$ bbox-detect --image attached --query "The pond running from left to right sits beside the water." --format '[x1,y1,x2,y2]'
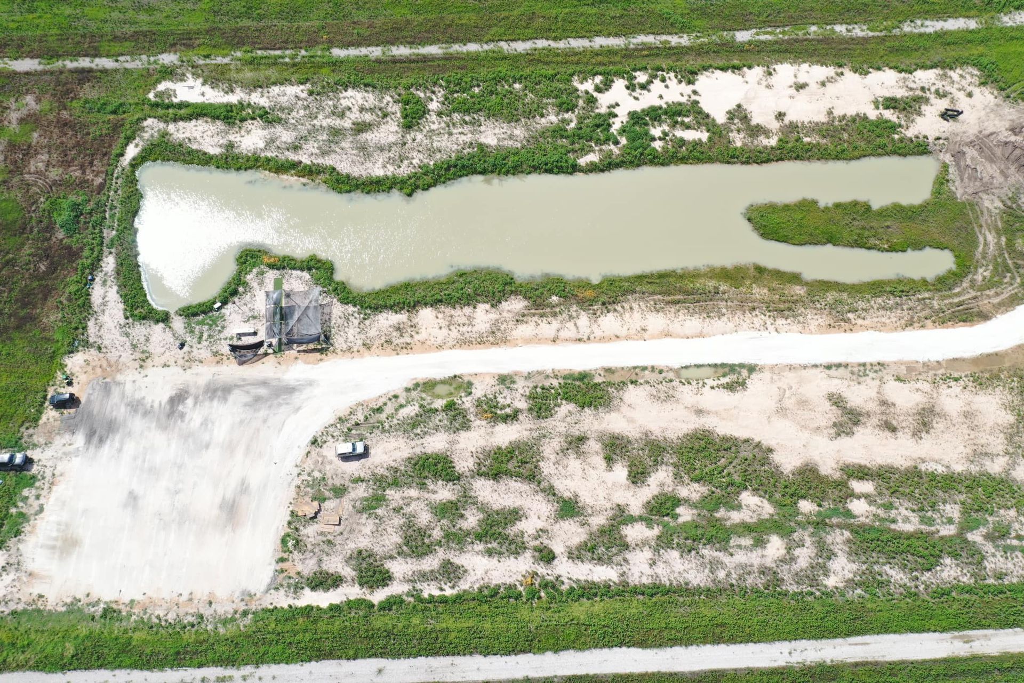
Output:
[133,154,956,313]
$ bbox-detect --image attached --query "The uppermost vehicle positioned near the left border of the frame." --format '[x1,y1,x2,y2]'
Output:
[48,396,79,412]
